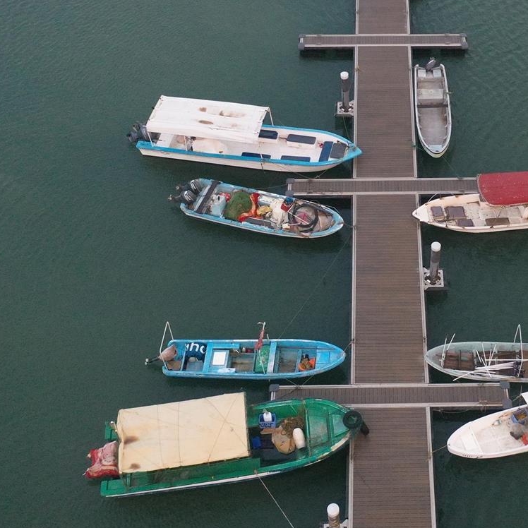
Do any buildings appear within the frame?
No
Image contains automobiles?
No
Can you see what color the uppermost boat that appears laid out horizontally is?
white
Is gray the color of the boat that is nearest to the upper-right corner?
Yes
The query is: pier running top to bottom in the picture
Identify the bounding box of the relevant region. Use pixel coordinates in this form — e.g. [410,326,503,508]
[320,0,448,528]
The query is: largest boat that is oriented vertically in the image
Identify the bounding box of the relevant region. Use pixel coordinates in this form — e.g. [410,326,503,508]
[414,57,453,158]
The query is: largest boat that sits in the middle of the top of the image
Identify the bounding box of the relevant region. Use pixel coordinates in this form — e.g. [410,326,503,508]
[120,97,366,175]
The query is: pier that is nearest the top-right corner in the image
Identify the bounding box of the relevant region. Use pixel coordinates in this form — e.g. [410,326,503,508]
[298,33,468,55]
